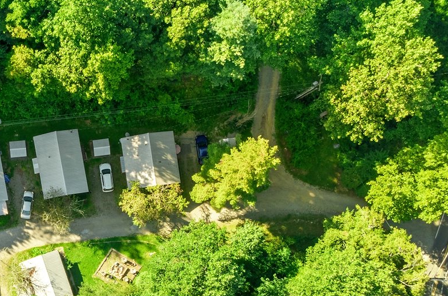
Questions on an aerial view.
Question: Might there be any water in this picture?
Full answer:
No, no water is visible.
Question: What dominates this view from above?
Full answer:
The largest share of the image is taken up by trees.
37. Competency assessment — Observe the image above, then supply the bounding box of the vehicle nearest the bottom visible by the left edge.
[20,191,34,220]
